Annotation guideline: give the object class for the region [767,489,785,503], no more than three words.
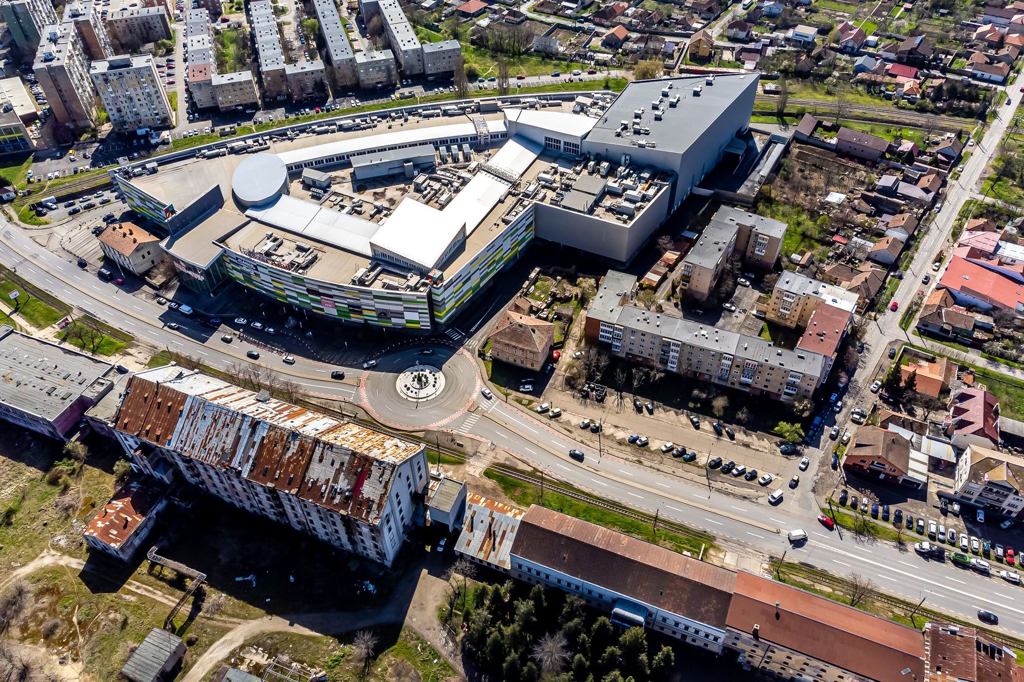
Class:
vehicle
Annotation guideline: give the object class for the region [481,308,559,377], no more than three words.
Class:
house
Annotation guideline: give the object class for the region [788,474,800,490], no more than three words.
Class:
vehicle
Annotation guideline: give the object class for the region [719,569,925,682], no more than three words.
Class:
warehouse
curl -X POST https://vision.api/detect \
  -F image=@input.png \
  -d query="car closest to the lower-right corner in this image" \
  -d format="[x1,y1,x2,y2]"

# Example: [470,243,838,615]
[978,612,998,624]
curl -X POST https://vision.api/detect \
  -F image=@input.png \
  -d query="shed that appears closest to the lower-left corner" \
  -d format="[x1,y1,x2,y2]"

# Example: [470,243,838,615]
[121,627,188,682]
